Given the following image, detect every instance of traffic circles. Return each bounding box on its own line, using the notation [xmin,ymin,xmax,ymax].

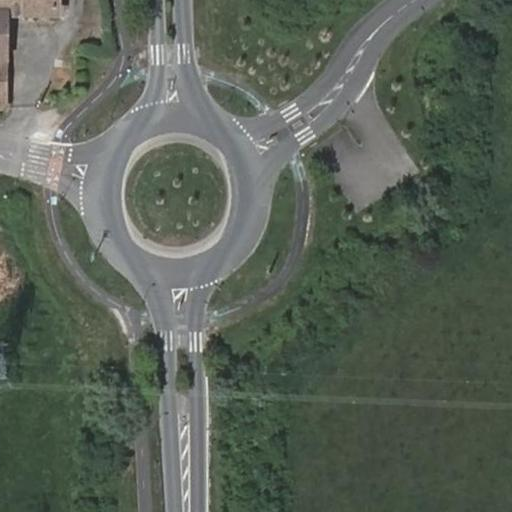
[48,63,311,332]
